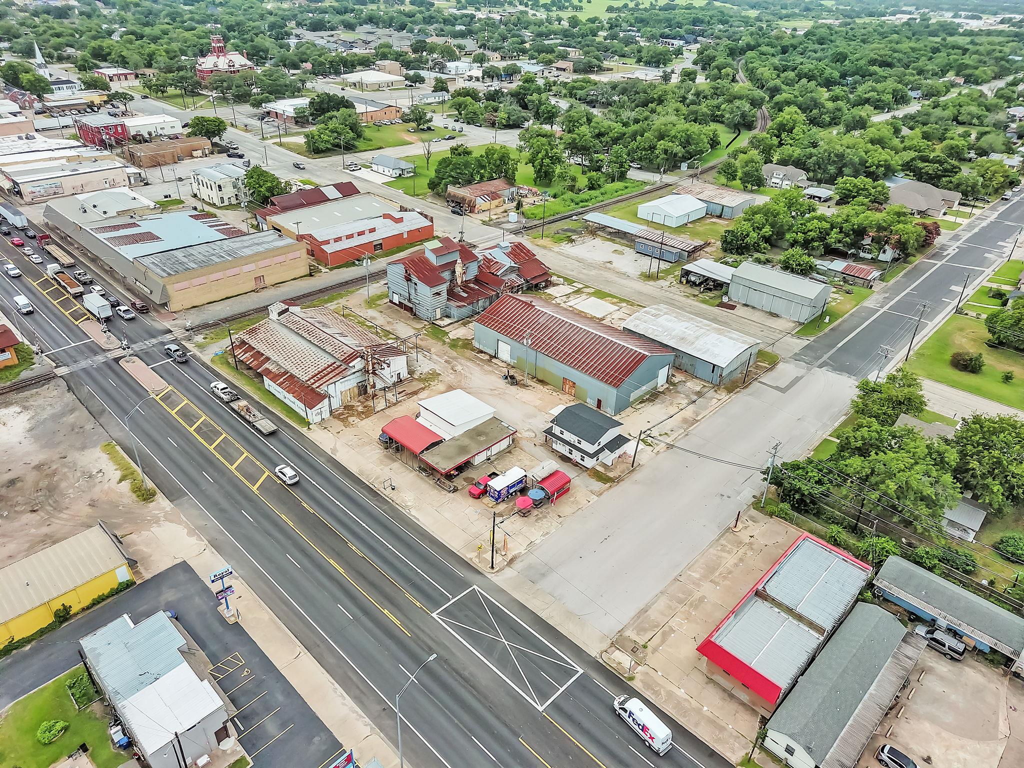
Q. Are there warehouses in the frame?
Yes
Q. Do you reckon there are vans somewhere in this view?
Yes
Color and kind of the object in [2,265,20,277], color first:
white vehicle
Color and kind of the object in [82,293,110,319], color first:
white truck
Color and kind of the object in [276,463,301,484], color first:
white car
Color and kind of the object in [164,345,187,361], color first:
gray vehicle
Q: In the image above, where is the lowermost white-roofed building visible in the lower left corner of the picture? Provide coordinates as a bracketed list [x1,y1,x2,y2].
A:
[77,611,230,768]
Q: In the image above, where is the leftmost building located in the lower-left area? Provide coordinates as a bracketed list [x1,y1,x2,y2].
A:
[0,518,137,646]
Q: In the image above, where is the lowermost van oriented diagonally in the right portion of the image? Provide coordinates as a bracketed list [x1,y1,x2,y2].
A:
[605,693,668,751]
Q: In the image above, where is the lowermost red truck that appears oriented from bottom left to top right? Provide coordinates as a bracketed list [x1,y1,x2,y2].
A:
[469,475,496,500]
